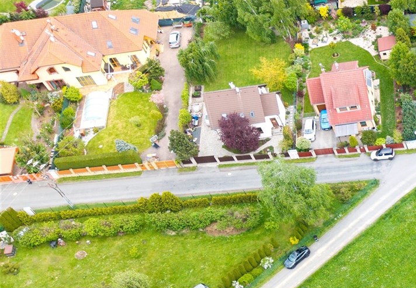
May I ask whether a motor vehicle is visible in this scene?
Yes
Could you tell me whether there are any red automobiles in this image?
No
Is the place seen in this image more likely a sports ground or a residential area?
residential area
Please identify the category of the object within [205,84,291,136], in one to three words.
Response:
house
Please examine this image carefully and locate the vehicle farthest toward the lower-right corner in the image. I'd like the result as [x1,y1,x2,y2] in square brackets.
[282,243,310,267]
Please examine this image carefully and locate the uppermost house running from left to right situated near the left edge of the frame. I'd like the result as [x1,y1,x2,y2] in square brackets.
[0,12,161,97]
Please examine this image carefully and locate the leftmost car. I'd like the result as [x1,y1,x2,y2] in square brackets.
[166,28,180,46]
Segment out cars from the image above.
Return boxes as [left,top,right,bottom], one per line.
[370,145,394,160]
[316,107,331,128]
[282,243,310,267]
[166,28,180,46]
[301,117,314,139]
[190,281,207,288]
